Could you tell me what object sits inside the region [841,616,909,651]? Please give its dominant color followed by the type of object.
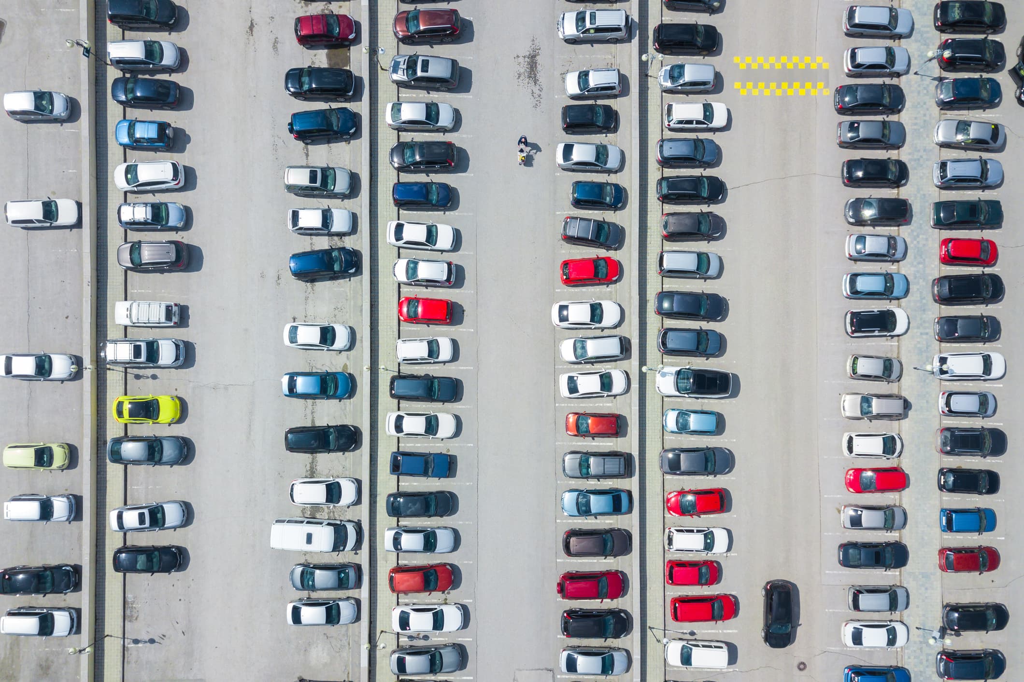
white car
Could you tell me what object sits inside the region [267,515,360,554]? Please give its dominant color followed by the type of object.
white van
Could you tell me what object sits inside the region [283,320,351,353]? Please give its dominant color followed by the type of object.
white car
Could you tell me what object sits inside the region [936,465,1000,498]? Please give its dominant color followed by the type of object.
black car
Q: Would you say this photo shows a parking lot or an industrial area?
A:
parking lot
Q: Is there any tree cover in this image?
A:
No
